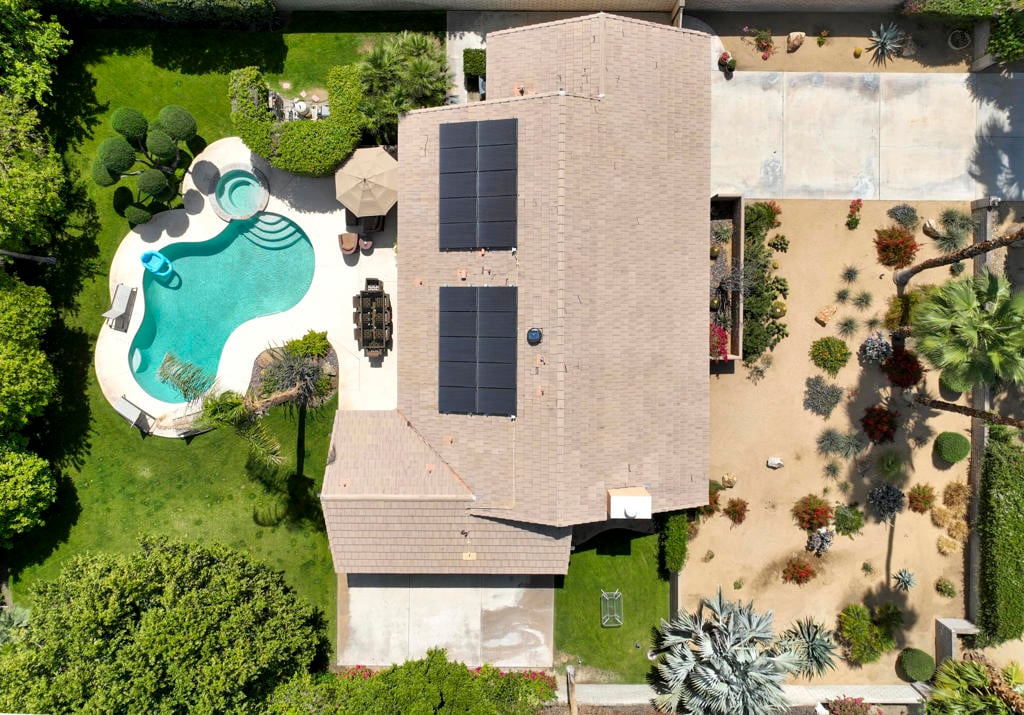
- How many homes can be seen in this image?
1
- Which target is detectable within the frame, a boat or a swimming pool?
swimming pool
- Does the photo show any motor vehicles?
No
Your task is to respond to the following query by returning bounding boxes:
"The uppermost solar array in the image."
[437,116,516,254]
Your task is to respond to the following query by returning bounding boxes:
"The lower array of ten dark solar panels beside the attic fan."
[437,285,516,418]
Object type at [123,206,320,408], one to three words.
swimming pool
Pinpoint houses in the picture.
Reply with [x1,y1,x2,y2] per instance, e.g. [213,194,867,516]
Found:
[320,12,713,574]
